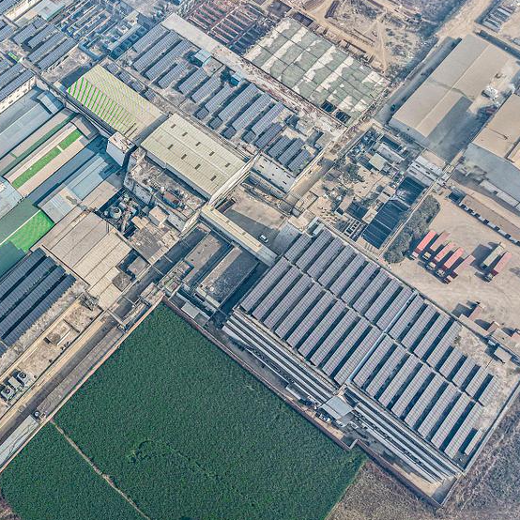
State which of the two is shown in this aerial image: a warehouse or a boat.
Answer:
warehouse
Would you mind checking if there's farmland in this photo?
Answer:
Yes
